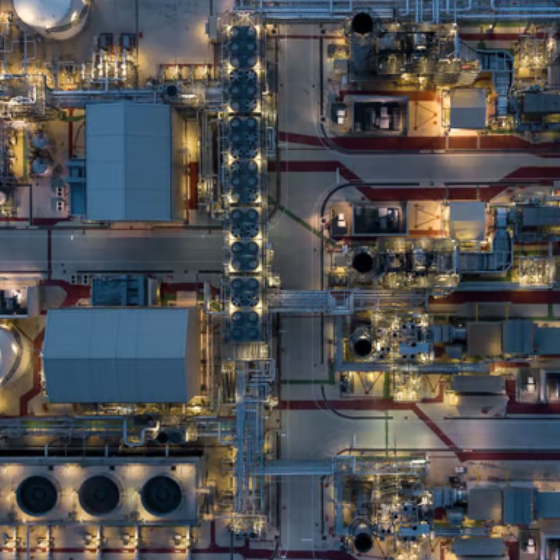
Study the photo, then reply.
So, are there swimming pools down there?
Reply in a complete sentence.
No, there isn't any swimming pool down there.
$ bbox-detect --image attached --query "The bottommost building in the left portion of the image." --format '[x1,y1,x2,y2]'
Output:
[40,309,203,408]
